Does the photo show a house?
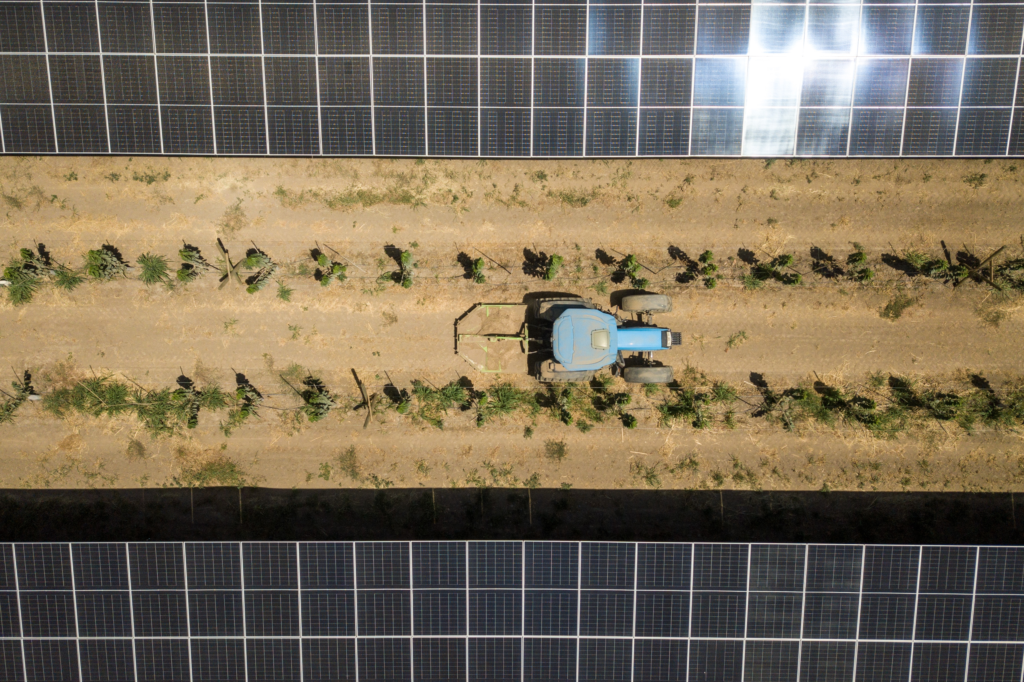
No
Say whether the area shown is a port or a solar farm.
solar farm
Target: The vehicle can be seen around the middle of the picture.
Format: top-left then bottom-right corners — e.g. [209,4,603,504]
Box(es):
[527,295,681,383]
